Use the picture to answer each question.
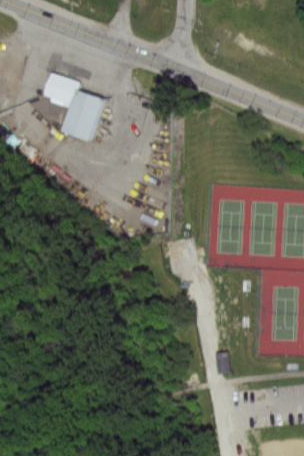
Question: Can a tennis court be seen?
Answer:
Yes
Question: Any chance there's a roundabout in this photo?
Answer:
No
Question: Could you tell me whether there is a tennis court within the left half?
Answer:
No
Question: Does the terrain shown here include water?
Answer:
No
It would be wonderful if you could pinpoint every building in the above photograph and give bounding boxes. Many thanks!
[218,351,230,374]
[43,72,81,108]
[62,90,106,142]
